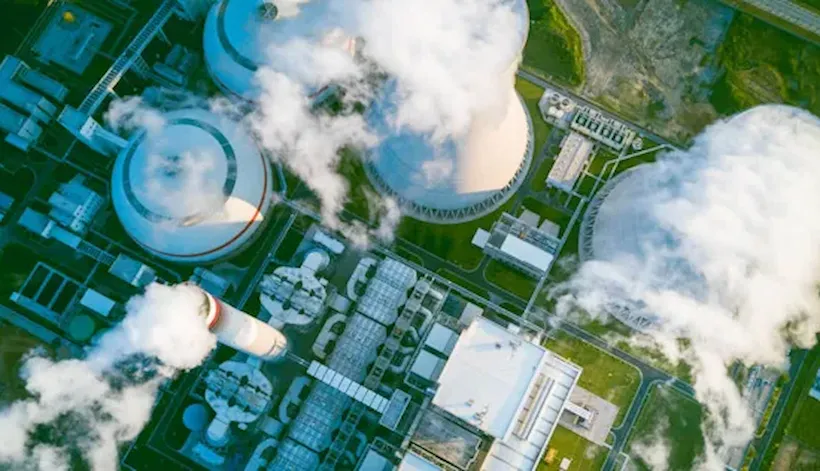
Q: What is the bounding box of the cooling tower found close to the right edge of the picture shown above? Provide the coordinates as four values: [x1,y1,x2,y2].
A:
[581,111,820,340]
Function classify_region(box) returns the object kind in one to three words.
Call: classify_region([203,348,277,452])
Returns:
house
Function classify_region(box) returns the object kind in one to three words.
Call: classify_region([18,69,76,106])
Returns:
shed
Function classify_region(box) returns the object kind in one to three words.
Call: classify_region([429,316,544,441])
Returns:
building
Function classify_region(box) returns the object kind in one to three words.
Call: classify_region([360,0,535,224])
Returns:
cooling tower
